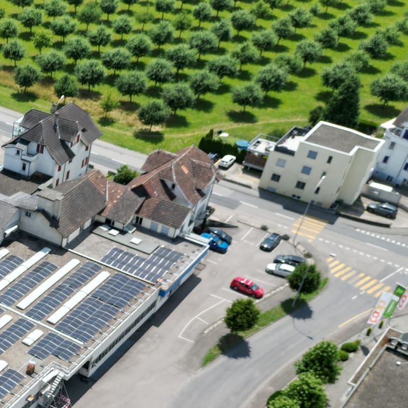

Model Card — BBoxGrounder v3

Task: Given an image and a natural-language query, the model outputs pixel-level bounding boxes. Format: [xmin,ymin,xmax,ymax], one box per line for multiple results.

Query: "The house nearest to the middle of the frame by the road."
[99,138,221,235]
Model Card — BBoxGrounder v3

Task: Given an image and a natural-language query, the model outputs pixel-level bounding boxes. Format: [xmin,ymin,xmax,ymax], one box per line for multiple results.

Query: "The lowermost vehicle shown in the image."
[230,276,264,299]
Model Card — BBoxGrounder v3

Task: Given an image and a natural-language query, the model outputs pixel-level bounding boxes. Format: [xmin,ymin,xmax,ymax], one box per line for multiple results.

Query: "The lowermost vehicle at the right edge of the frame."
[366,203,399,218]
